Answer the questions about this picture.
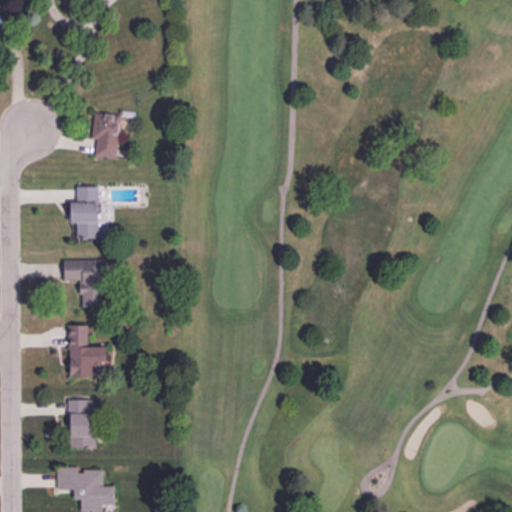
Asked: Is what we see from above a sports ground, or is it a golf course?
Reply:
golf course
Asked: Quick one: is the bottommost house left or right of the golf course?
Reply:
left of it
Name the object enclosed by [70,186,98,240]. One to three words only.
house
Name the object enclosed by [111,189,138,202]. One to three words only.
swimming pool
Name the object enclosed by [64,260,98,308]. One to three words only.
house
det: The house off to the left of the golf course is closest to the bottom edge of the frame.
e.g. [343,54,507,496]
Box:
[56,468,115,512]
